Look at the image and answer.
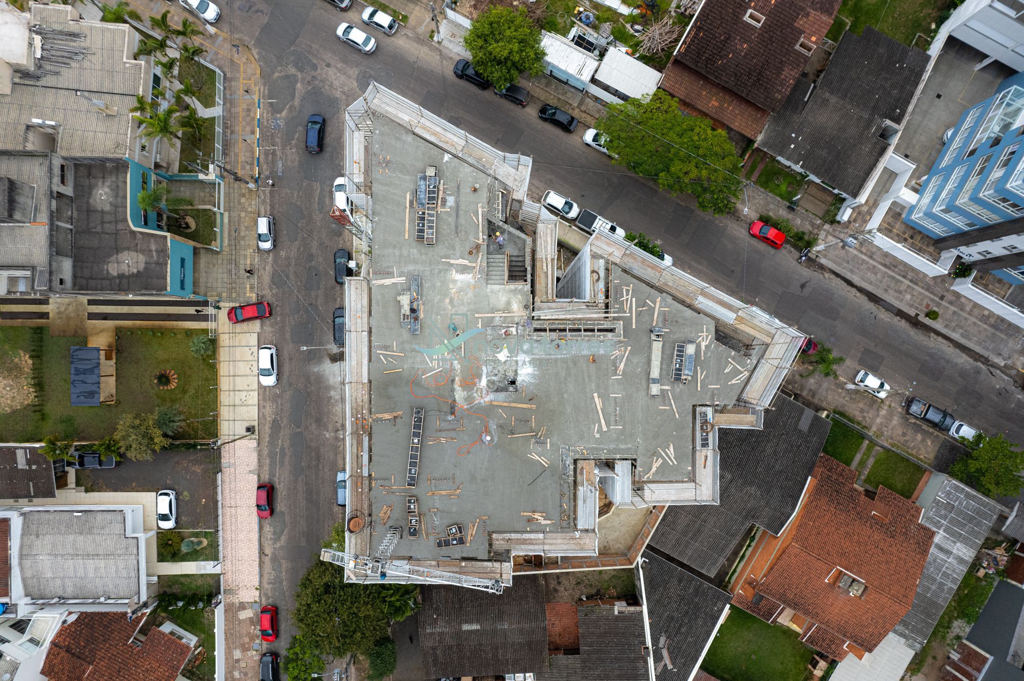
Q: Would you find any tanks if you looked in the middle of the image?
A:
No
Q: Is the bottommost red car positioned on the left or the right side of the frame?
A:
left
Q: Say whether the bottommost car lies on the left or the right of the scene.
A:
left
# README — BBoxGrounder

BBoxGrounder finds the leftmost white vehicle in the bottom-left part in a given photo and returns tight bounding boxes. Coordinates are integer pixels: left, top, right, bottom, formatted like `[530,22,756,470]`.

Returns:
[151,491,174,532]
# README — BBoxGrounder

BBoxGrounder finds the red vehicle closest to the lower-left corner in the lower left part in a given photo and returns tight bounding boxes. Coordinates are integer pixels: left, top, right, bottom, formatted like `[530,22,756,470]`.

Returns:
[256,606,277,646]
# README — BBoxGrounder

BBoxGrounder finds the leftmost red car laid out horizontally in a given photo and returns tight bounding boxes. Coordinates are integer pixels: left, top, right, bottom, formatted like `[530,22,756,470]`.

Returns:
[226,301,269,324]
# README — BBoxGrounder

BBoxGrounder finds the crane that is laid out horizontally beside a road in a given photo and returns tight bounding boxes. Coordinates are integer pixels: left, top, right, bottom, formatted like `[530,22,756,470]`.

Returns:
[318,524,504,599]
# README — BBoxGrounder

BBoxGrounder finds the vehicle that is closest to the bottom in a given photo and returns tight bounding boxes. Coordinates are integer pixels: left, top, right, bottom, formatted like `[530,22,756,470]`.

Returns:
[258,654,278,681]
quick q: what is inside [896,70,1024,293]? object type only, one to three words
building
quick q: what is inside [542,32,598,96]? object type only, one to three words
shed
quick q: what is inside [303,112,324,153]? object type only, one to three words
car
